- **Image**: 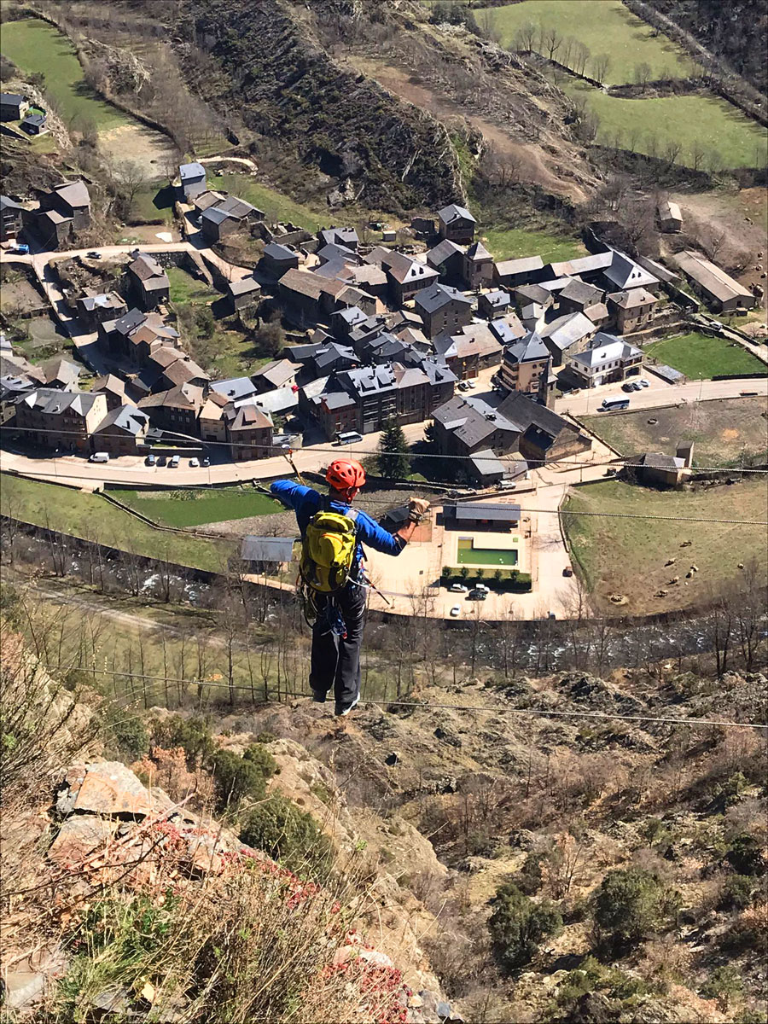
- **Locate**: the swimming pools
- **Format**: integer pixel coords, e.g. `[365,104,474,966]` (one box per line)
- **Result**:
[454,534,521,567]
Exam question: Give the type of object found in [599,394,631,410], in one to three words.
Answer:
vehicle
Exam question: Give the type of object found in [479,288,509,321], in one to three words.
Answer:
house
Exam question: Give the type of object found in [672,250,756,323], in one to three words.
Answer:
barn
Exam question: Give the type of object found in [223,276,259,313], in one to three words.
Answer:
shed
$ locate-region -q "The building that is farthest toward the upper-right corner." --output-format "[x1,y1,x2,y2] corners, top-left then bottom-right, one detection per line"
[659,202,683,241]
